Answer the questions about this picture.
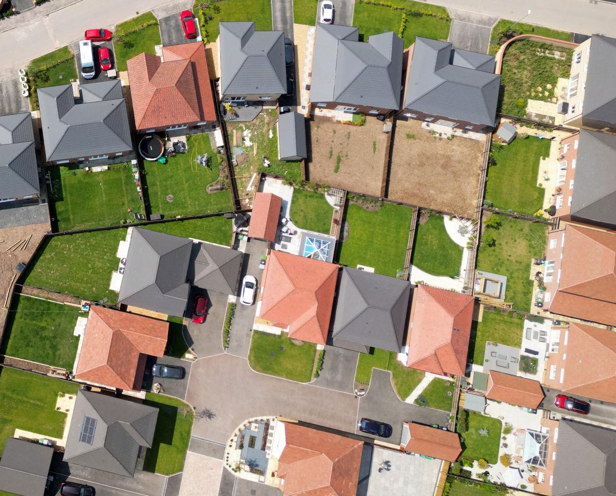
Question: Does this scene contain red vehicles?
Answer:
Yes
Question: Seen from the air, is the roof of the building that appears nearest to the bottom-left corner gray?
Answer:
Yes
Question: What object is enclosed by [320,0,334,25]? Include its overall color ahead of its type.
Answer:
white car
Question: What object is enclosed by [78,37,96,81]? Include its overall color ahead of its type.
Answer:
white vehicle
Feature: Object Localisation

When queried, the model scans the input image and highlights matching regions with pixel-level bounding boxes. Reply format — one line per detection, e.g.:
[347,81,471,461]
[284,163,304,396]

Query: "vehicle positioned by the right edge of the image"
[554,395,591,417]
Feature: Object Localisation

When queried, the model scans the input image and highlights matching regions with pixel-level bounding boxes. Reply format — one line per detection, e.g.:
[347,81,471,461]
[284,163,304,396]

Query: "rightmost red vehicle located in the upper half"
[180,11,197,40]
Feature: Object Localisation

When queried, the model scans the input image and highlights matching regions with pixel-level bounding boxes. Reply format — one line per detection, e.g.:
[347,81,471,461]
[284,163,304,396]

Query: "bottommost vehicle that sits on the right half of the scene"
[356,418,392,438]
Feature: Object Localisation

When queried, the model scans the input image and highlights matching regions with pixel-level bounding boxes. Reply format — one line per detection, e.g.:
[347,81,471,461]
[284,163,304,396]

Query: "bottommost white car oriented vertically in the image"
[240,275,257,306]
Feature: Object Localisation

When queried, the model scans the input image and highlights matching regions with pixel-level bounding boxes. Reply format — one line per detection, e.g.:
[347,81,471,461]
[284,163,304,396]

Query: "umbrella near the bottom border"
[498,463,522,491]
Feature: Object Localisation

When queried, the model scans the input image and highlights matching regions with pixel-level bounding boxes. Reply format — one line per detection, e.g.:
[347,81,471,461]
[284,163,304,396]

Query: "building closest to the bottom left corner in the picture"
[0,437,55,496]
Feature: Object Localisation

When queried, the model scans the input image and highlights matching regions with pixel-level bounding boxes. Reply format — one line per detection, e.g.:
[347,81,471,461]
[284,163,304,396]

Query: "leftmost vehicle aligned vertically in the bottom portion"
[192,295,207,325]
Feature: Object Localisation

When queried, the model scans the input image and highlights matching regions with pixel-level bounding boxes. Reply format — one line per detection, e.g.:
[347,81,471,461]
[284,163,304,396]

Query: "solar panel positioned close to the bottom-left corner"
[79,415,98,445]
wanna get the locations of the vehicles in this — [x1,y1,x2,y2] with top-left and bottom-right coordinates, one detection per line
[284,38,298,67]
[284,71,297,98]
[192,295,207,325]
[60,482,96,496]
[85,28,112,42]
[152,360,185,378]
[356,418,392,438]
[554,395,591,417]
[98,46,112,72]
[180,11,197,40]
[320,0,334,25]
[240,275,257,306]
[78,37,96,81]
